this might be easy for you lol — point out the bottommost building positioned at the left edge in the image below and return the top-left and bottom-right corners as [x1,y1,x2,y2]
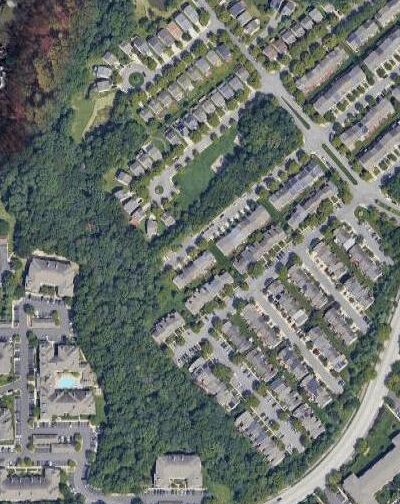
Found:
[0,467,61,503]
